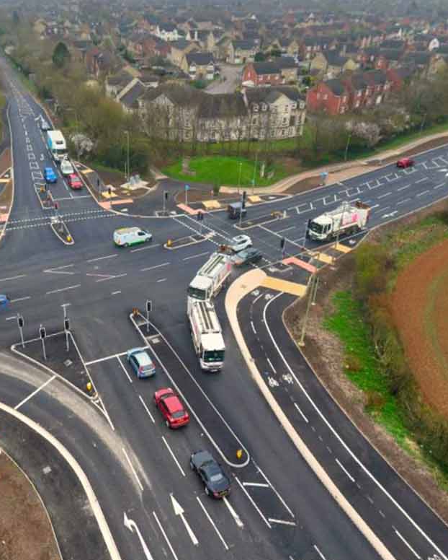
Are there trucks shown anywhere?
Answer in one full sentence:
Yes, you can see a truck in this photo.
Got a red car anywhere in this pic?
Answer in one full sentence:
Yes, there's a red car down there.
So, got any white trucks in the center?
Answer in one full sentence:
Yes, looking in the center, one can make out a white truck.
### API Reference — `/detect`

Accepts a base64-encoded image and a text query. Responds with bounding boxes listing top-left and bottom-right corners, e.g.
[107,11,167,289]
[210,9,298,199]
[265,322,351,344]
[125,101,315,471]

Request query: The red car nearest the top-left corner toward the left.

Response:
[69,174,81,187]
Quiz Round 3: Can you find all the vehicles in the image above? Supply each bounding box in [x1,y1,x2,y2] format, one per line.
[154,391,190,430]
[45,168,57,180]
[126,349,154,379]
[395,157,414,168]
[189,452,234,504]
[233,248,263,265]
[115,228,149,246]
[189,246,233,300]
[188,290,226,363]
[46,130,65,160]
[61,160,73,174]
[310,204,367,242]
[223,202,248,220]
[39,118,48,128]
[69,174,81,187]
[226,234,256,252]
